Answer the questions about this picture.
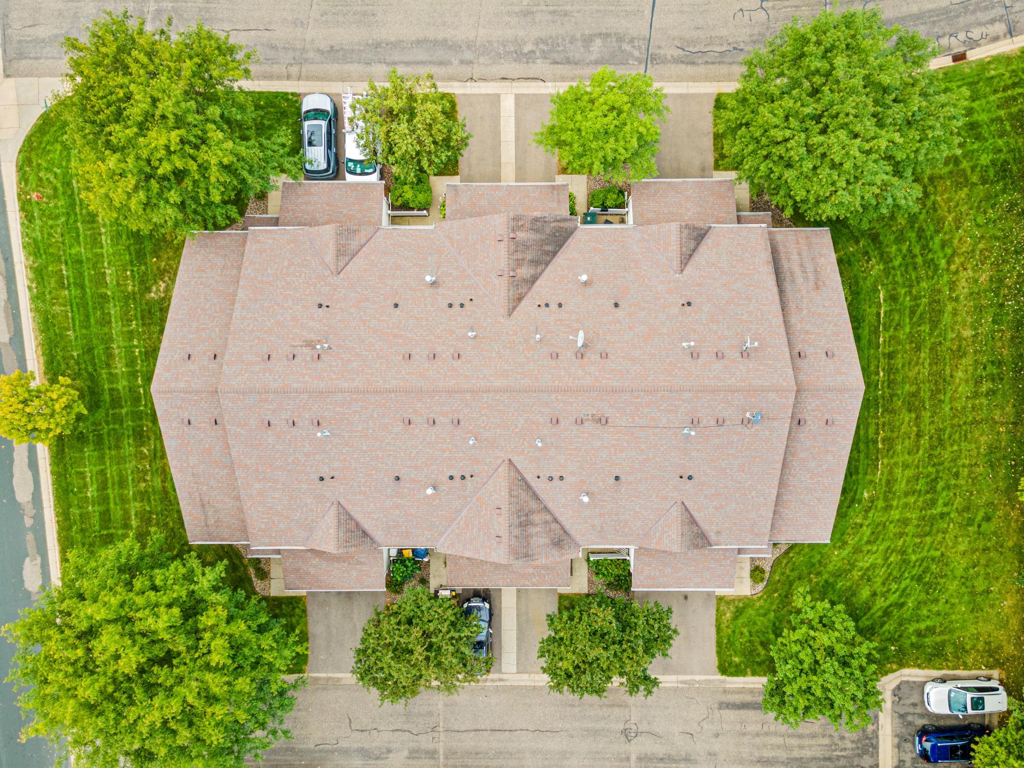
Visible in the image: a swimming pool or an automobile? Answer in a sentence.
Of the two, only an automobile appears.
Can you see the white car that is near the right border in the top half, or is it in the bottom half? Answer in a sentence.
The white car that is near the right border is in the bottom half of the image.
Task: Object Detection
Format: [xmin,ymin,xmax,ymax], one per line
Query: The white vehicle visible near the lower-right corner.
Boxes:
[920,673,1011,719]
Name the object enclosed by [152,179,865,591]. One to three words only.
house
